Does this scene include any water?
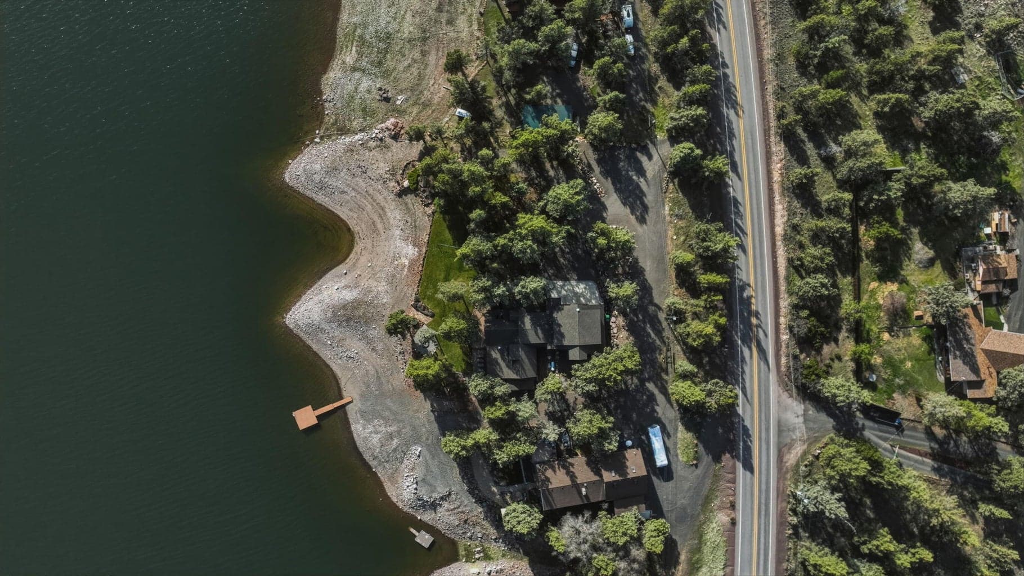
Yes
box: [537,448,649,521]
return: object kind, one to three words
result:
house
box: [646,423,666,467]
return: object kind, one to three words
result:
camper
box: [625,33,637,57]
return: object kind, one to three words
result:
vehicle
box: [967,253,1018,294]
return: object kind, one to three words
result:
house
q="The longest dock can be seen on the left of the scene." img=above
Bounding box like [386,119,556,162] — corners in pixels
[292,396,353,430]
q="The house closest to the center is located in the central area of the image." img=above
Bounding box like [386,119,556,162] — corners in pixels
[484,297,606,390]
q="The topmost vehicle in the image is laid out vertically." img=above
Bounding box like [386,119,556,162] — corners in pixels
[621,2,634,29]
